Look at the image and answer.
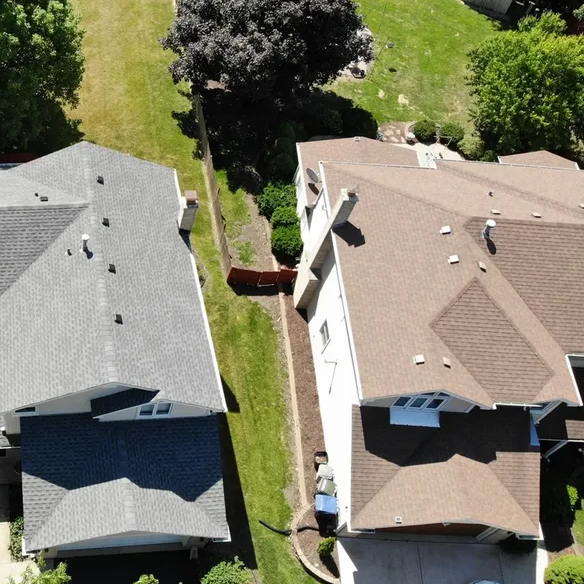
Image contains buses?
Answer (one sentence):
No, no bus can be seen from above.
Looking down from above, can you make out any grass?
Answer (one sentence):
Yes, some grass is visible.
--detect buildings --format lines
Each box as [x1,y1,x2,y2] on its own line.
[457,0,513,22]
[0,141,233,562]
[289,136,584,548]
